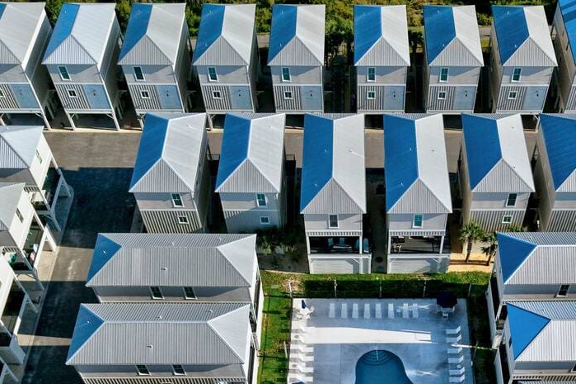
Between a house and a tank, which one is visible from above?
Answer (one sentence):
Of the two, only a house appears.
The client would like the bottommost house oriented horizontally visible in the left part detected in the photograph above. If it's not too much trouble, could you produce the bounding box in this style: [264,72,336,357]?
[65,302,258,384]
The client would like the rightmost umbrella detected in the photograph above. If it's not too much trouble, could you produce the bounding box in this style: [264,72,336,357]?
[437,292,458,313]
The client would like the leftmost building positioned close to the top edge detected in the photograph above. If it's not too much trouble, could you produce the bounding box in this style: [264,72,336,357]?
[0,3,60,130]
